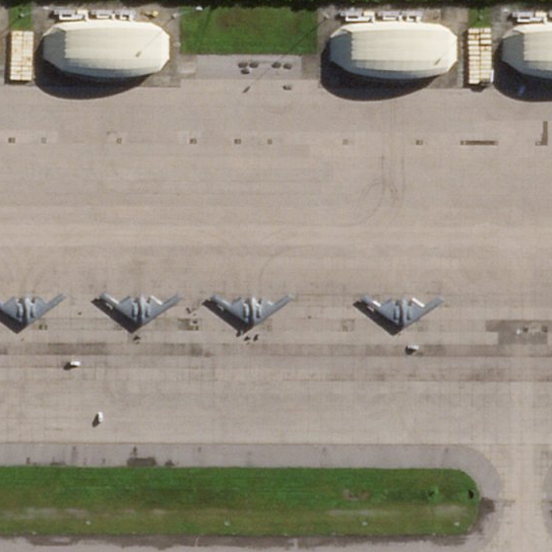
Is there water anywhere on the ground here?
No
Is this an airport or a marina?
airport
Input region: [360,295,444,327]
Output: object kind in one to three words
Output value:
airplane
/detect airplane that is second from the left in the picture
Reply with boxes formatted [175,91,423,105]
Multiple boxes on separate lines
[98,293,183,325]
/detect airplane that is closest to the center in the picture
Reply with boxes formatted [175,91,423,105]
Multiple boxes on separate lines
[209,293,295,325]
